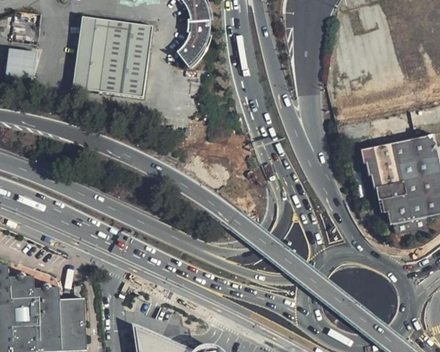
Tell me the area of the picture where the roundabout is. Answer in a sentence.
The roundabout appears toward the bottom right of the photo.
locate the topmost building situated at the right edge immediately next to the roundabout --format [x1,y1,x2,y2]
[360,134,440,225]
